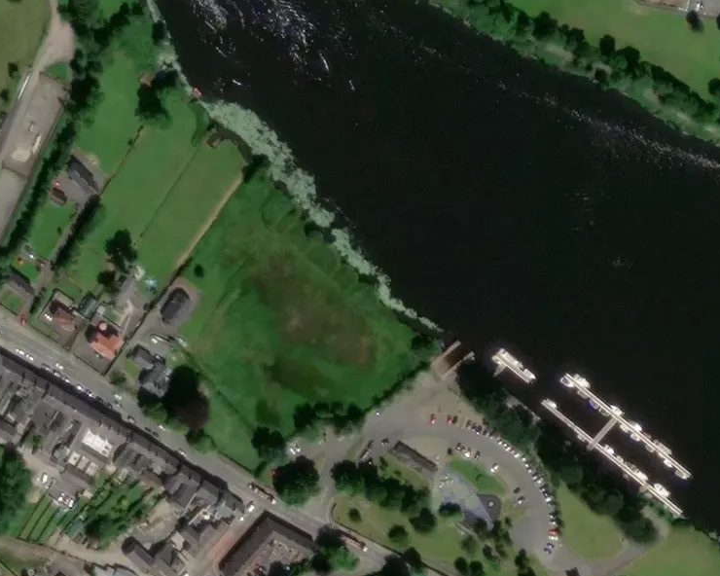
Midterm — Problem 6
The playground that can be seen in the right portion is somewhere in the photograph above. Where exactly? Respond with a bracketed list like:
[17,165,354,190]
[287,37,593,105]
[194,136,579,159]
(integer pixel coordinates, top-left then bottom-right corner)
[440,463,501,529]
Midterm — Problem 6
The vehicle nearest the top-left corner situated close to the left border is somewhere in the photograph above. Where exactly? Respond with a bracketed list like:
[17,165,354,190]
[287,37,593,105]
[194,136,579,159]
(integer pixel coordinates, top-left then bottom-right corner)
[17,74,30,100]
